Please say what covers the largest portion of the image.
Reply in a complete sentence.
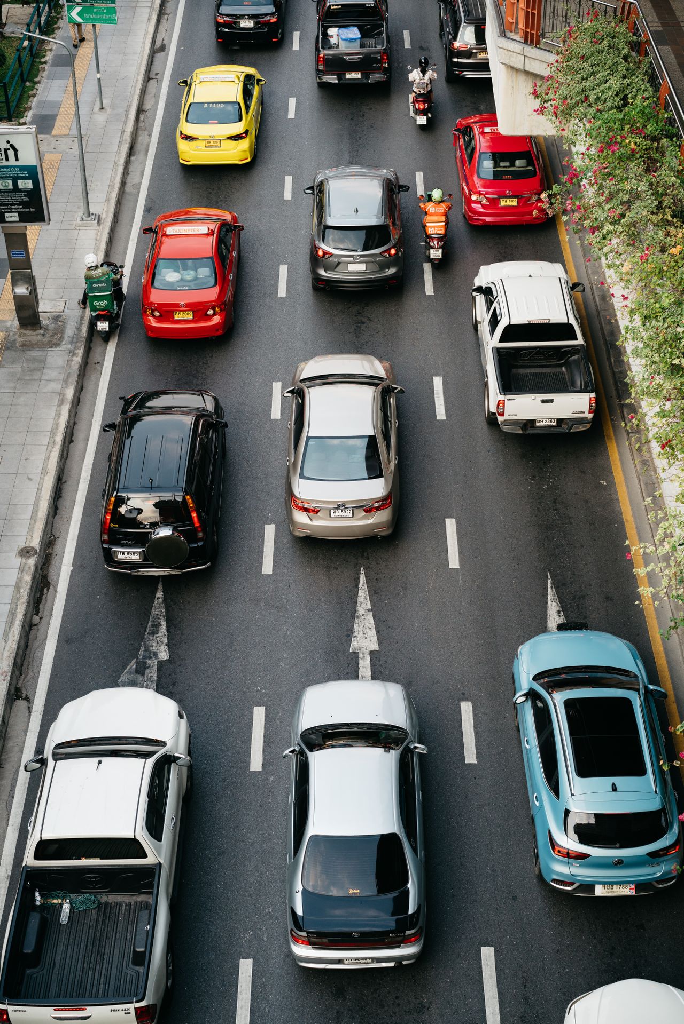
What you mostly see from above here is paved ground.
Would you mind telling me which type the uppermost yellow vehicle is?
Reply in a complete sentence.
It turns out the uppermost yellow vehicle is a car.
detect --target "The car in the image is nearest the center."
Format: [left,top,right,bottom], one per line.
[283,357,405,538]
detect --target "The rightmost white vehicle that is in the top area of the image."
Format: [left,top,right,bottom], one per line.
[471,264,602,435]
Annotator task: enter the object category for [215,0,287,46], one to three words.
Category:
car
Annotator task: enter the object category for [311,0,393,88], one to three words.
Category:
truck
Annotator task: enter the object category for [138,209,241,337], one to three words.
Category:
car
